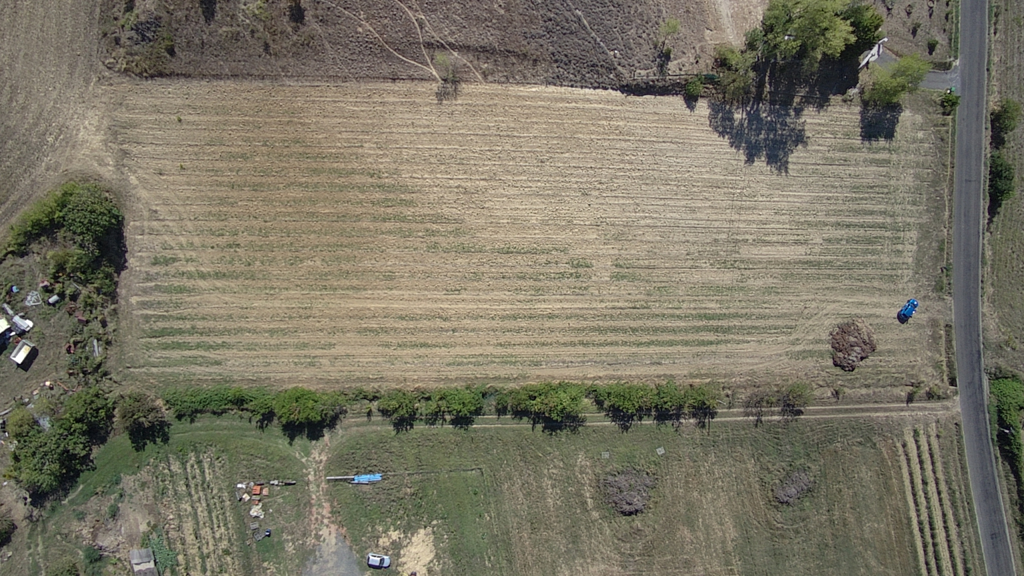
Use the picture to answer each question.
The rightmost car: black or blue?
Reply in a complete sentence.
In this view, the rightmost car is blue.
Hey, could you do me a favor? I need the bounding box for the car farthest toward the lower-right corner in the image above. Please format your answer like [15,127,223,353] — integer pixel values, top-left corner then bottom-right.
[897,298,917,323]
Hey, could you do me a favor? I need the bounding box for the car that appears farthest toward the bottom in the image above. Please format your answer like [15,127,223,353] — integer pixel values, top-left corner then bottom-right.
[368,554,391,567]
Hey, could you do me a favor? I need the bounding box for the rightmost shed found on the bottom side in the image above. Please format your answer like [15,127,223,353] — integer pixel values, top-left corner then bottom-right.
[130,546,160,576]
